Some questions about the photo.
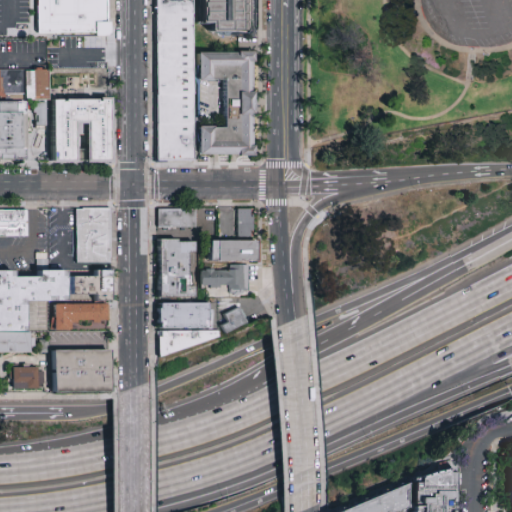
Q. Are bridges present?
Yes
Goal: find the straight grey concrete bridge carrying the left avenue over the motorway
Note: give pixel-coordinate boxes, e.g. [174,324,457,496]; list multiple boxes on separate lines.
[113,380,158,512]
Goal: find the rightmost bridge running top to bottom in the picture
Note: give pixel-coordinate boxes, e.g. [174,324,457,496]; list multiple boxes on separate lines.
[271,314,326,506]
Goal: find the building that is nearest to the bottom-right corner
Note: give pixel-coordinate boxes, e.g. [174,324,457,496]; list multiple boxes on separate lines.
[418,468,462,512]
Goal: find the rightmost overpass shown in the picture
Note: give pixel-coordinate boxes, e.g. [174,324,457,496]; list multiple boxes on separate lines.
[466,236,512,273]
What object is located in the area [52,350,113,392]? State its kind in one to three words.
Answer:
building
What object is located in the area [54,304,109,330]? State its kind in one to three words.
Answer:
building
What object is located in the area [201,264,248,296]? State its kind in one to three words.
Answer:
house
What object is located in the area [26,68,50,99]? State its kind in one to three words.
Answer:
house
